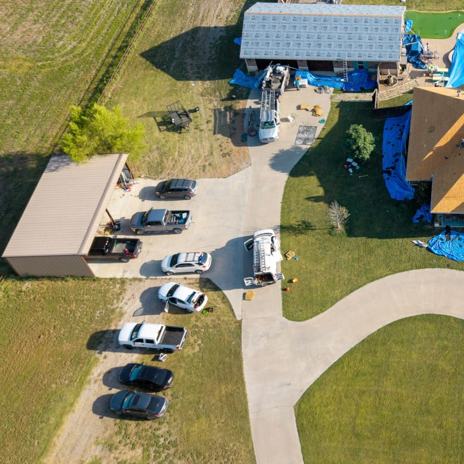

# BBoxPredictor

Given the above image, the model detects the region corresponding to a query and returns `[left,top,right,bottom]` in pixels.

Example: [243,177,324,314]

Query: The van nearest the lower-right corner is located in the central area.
[240,227,288,287]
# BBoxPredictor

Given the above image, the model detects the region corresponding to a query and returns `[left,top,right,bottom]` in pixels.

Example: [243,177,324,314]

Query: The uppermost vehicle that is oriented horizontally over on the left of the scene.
[150,173,202,197]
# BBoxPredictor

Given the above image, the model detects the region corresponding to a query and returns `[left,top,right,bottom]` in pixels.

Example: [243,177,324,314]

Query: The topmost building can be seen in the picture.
[240,2,410,77]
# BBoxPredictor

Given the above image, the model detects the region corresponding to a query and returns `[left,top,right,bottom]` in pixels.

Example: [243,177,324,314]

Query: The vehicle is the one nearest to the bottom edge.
[104,387,170,422]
